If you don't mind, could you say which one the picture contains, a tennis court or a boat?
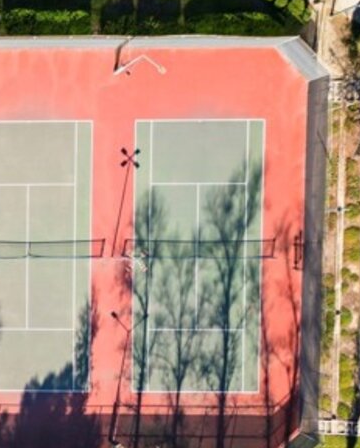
tennis court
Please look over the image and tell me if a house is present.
No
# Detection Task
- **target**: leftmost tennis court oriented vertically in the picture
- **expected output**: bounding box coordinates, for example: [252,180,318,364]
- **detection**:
[0,120,92,391]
